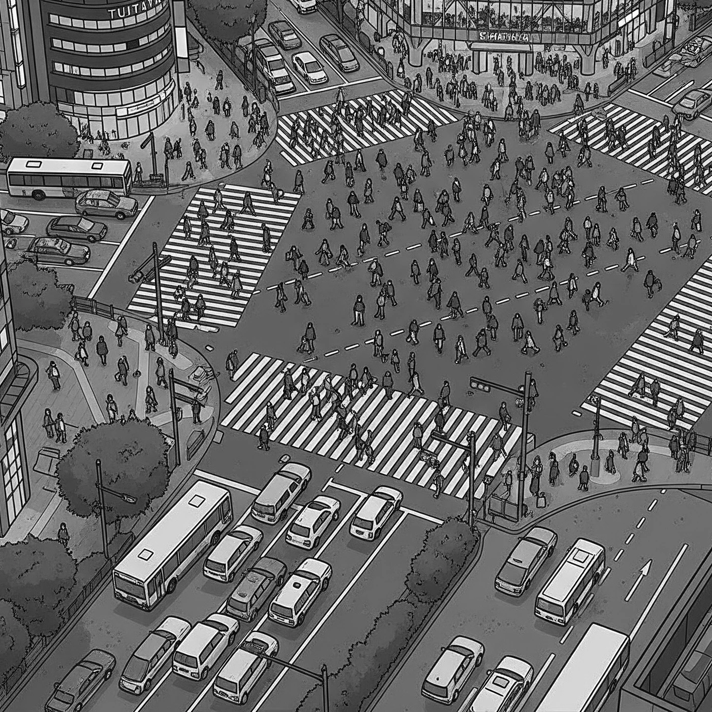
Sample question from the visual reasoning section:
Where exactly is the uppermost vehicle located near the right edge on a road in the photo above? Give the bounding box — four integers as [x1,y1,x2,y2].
[677,38,712,69]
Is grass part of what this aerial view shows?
No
